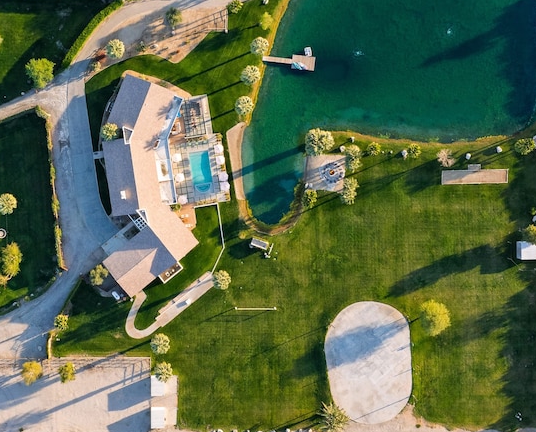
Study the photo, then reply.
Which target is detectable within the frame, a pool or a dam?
pool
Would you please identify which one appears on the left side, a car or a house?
house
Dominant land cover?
grass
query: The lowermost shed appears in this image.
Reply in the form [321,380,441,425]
[150,404,164,428]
